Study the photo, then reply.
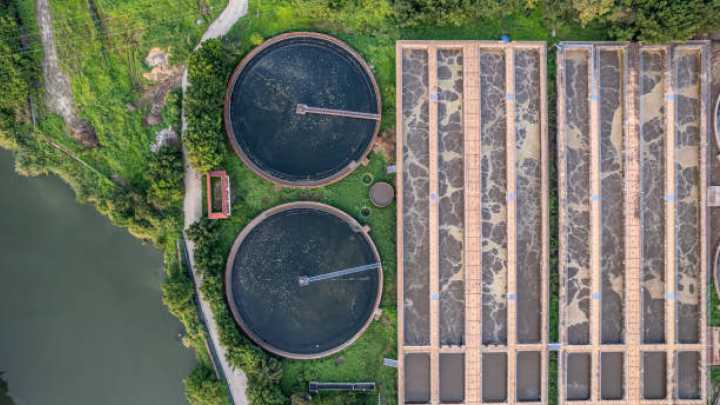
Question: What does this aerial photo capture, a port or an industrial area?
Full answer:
This looks like an industrial area.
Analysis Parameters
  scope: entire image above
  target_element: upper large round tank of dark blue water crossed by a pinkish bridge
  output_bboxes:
[225,32,382,188]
